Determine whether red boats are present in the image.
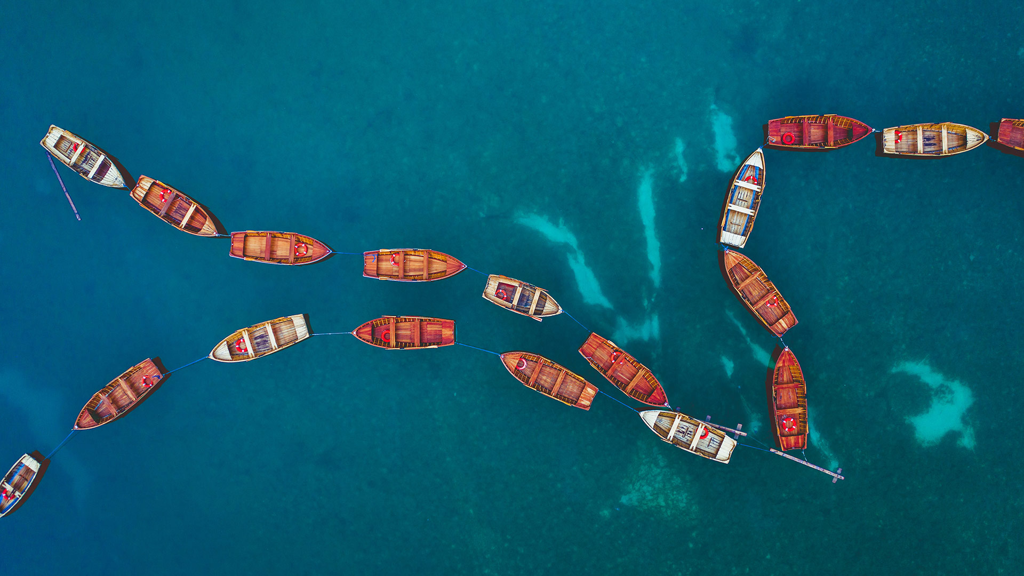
Yes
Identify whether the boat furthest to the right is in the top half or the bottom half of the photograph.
top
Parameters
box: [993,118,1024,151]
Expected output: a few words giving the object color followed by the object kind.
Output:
red boat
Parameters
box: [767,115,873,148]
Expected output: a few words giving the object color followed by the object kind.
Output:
red boat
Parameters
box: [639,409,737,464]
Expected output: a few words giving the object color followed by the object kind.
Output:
white boat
